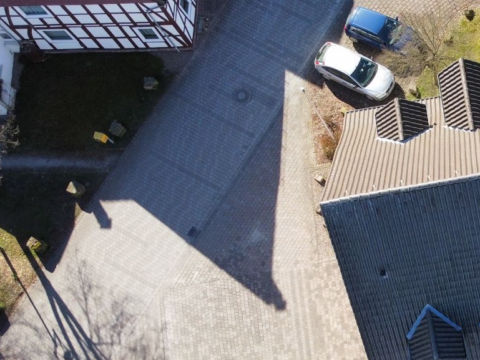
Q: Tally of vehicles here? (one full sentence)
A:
The count of vehicles comes to 2.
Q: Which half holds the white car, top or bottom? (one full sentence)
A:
The white car sits in the top half of the picture.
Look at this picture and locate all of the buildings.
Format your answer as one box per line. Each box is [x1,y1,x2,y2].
[0,0,197,48]
[320,60,480,360]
